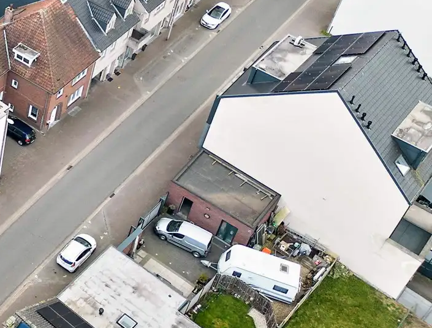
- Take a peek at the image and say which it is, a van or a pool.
van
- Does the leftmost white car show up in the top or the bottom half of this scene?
bottom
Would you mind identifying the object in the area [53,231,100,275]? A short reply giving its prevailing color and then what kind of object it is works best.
white car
